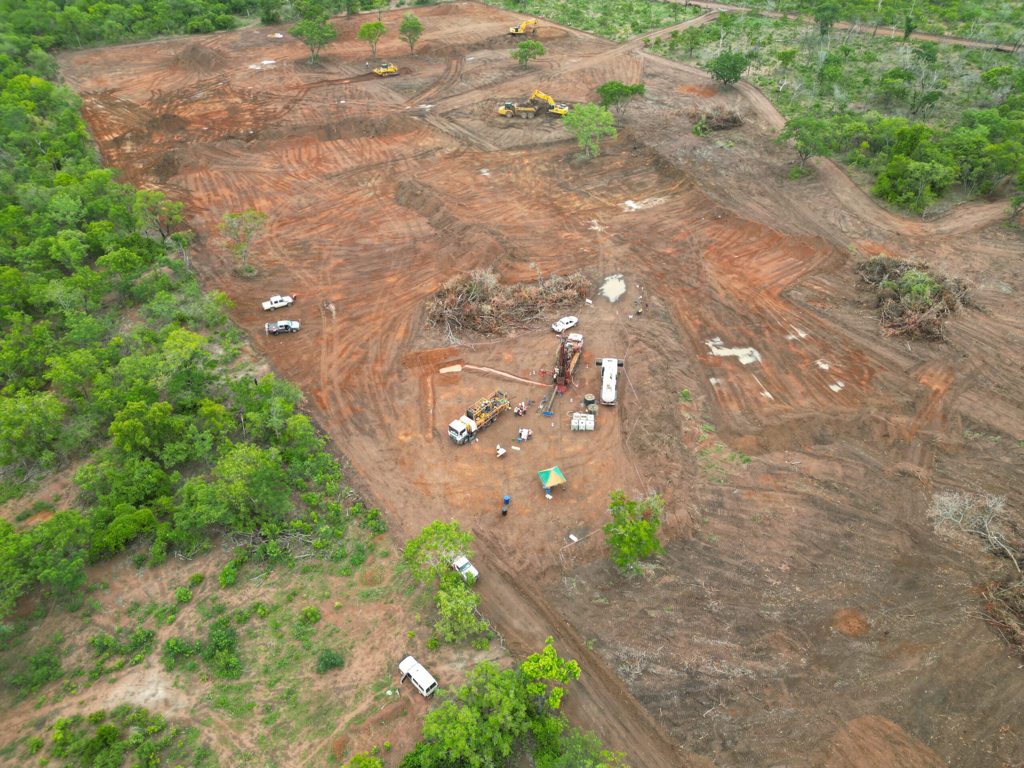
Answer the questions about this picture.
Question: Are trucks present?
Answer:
Yes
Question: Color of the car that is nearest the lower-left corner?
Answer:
white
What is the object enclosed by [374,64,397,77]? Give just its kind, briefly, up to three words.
vehicle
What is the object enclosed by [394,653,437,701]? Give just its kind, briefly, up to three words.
car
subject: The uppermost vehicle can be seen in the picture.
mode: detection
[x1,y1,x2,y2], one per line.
[508,15,538,35]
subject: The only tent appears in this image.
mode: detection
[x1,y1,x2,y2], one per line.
[537,466,566,496]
